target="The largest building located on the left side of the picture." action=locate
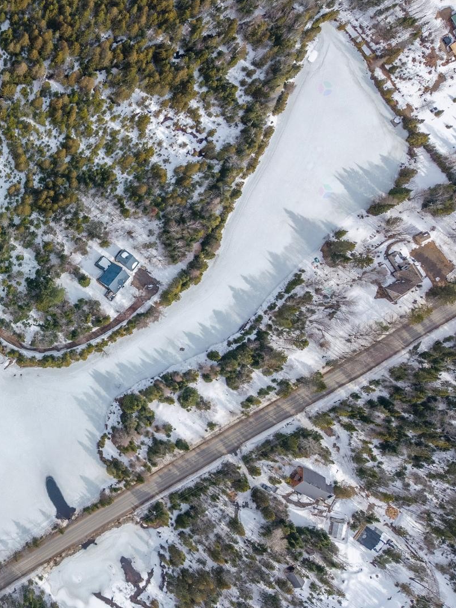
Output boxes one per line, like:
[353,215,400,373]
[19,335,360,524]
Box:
[95,255,129,298]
